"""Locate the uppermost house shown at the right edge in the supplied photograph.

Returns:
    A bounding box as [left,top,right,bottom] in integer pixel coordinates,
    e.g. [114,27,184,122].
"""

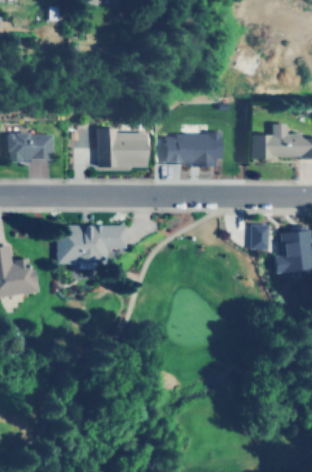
[253,124,312,162]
